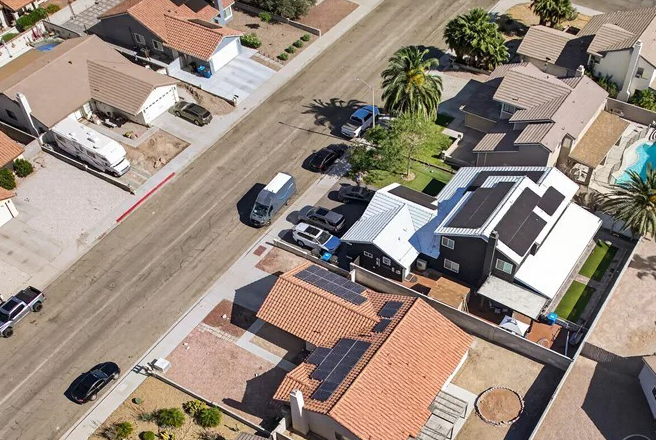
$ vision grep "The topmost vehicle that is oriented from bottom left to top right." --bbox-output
[340,99,382,137]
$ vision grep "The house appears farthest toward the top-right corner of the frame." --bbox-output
[516,5,656,104]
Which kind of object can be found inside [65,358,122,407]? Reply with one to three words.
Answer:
car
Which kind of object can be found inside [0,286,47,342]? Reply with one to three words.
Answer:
vehicle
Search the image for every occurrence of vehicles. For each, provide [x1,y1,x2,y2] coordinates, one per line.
[49,114,136,178]
[243,168,296,227]
[0,286,47,342]
[168,99,214,126]
[65,358,122,407]
[336,179,378,206]
[340,99,382,137]
[309,201,360,233]
[294,217,345,252]
[308,140,345,171]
